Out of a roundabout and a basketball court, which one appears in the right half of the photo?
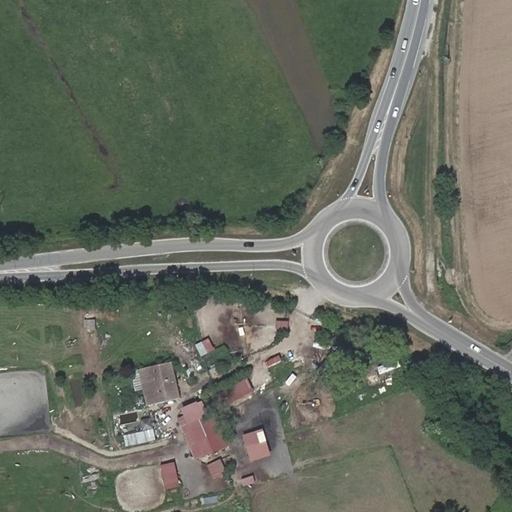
roundabout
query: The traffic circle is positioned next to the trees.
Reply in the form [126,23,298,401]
[302,196,410,307]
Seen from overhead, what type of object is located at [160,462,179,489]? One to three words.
shed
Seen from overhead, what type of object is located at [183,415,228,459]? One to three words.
house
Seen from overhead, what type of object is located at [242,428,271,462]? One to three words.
barn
